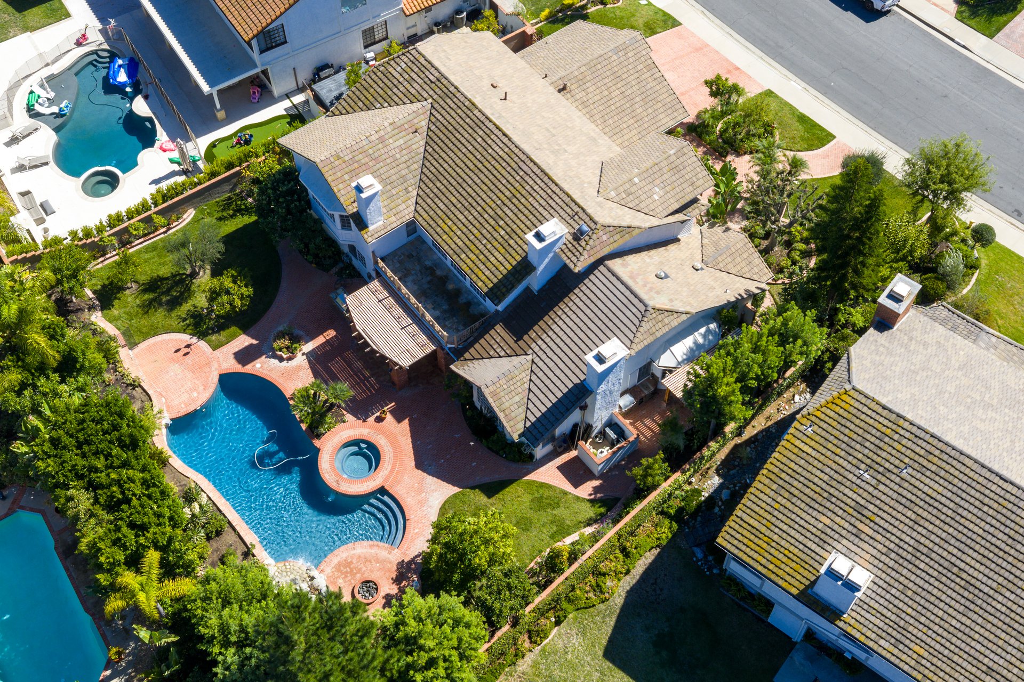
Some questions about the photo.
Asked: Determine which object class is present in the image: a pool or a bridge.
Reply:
pool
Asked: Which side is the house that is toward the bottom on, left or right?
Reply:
right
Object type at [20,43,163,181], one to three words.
swimming pool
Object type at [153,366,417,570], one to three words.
swimming pool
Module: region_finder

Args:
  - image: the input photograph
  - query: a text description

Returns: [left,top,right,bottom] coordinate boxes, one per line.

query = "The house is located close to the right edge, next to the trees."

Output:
[713,273,1024,682]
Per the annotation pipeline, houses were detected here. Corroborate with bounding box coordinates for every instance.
[713,273,1024,682]
[278,22,774,461]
